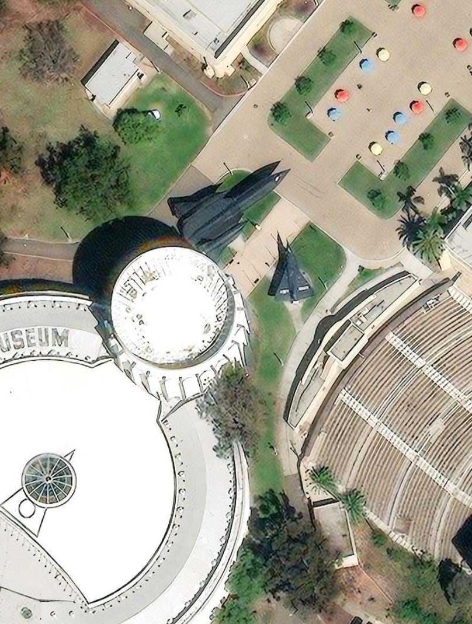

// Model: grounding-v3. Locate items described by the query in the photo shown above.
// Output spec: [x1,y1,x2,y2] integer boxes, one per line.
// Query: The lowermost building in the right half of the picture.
[286,275,422,444]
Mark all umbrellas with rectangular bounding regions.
[411,102,423,114]
[336,89,348,102]
[370,142,383,154]
[327,107,339,120]
[418,82,431,95]
[393,112,405,125]
[454,38,467,50]
[413,4,425,16]
[377,48,390,61]
[388,131,400,143]
[360,59,372,71]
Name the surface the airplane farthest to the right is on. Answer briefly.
grass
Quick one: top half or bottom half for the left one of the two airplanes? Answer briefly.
top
